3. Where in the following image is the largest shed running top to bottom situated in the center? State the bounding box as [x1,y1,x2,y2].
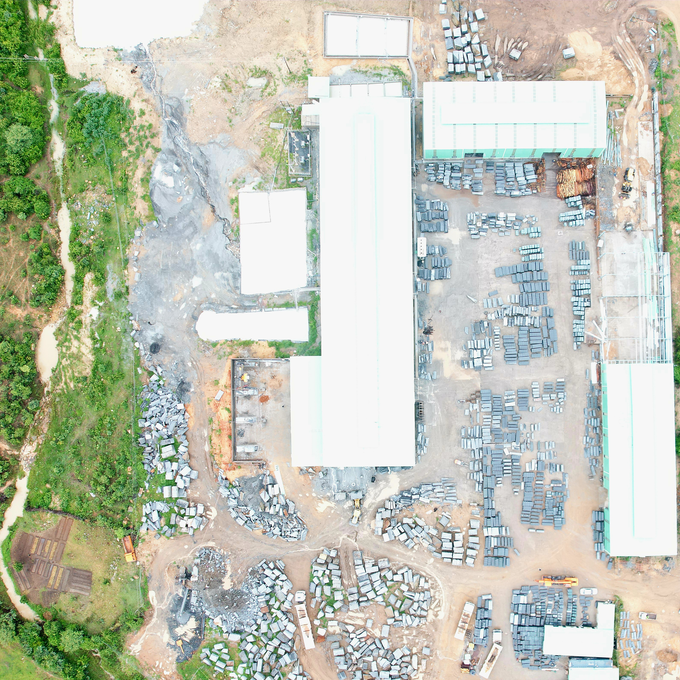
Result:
[321,95,416,467]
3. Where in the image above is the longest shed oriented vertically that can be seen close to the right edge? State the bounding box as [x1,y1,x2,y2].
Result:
[601,363,677,556]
